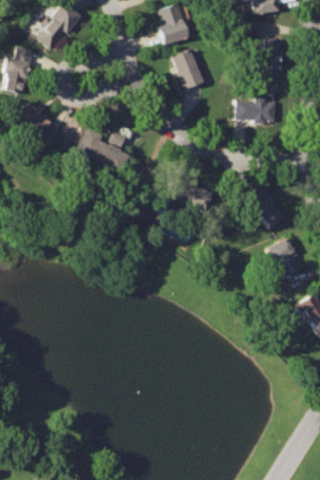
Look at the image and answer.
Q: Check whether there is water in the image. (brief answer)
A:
Yes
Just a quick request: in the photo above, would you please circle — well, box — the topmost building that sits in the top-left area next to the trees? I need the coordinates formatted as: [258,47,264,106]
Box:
[30,6,76,52]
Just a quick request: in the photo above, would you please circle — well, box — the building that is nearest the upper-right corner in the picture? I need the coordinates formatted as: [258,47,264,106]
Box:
[249,0,278,18]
